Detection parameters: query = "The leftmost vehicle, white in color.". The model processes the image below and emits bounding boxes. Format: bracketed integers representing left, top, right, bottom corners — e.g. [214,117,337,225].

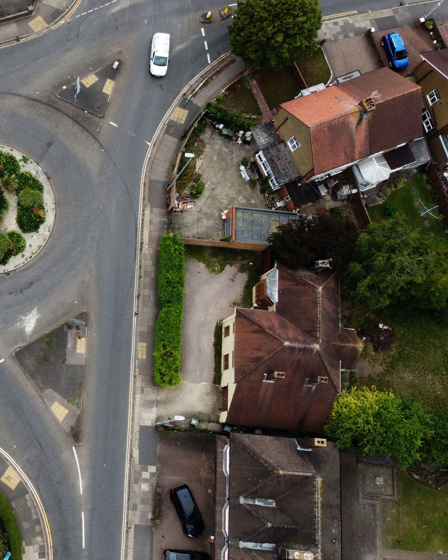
[149,33,171,77]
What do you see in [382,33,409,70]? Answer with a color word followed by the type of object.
blue car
